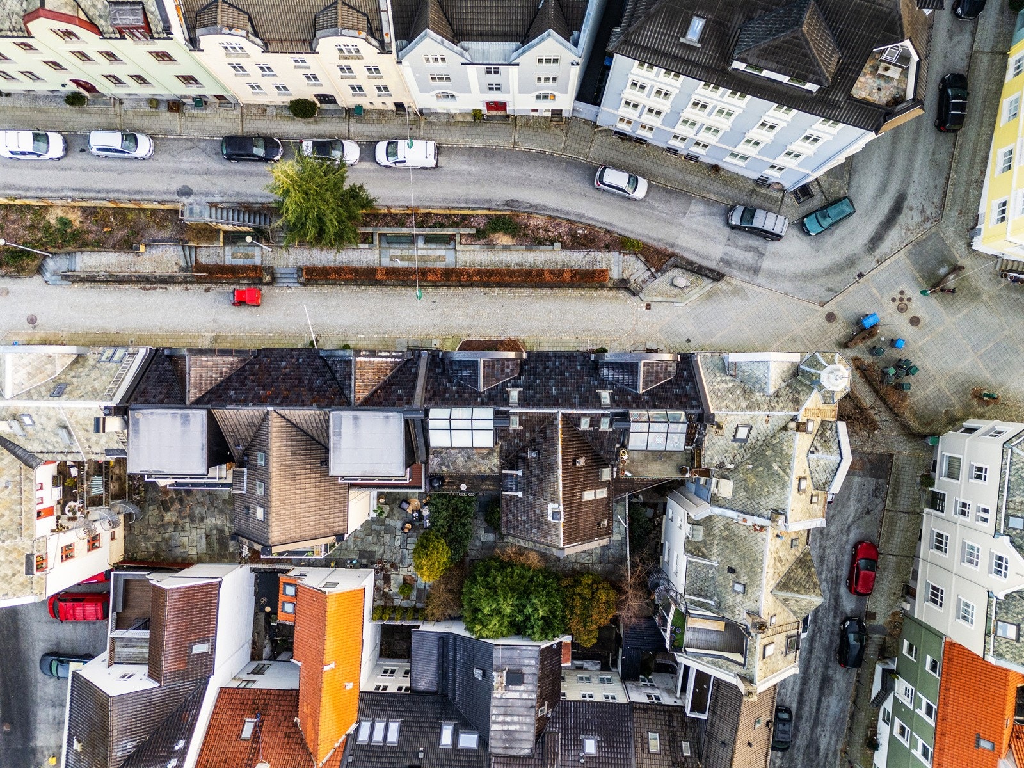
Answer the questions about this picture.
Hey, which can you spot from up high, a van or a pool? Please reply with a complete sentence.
This aerial view contains a van.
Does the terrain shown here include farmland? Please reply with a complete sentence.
No, there is no farmland in the image.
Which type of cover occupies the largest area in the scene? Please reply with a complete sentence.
For the most part, this view shows buildings.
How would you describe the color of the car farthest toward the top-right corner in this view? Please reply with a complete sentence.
The car farthest toward the top-right corner looks black in the image.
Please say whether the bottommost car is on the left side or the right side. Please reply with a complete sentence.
You can find the bottommost car on the right side of the picture.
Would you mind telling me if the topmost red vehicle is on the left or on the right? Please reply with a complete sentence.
The topmost red vehicle appears in the left half of the scene.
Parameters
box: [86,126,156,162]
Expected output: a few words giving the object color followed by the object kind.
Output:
white car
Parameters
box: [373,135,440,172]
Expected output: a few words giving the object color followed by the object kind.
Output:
white van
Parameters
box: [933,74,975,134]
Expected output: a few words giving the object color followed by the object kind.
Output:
black car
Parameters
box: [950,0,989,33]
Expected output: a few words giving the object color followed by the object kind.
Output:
black car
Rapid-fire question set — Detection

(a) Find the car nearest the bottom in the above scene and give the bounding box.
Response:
[773,701,798,755]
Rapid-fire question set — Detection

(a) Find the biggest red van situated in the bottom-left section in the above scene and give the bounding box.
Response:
[52,591,109,626]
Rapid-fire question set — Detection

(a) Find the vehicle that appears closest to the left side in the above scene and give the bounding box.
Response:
[0,126,70,163]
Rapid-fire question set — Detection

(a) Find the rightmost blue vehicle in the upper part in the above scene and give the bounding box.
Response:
[800,193,861,237]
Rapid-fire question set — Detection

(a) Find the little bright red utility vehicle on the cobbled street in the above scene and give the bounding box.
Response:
[228,286,262,308]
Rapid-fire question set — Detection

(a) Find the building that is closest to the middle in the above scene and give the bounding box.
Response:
[400,346,719,552]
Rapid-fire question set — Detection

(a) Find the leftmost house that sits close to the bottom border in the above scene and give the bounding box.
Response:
[62,563,253,768]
